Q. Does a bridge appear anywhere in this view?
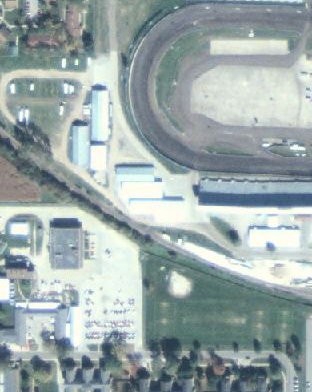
No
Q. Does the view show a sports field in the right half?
Yes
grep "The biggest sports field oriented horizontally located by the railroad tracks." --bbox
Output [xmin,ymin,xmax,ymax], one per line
[143,262,306,351]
